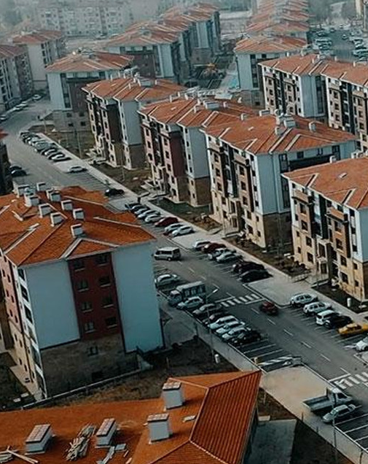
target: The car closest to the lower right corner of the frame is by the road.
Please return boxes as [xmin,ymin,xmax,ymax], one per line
[322,404,361,425]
